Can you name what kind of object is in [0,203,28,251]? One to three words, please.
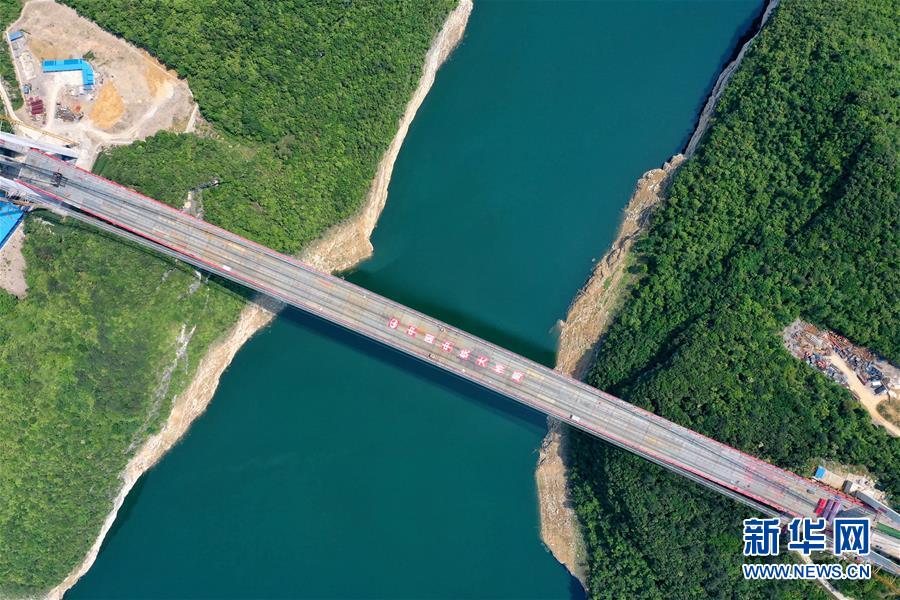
building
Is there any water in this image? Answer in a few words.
Yes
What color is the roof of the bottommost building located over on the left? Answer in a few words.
blue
